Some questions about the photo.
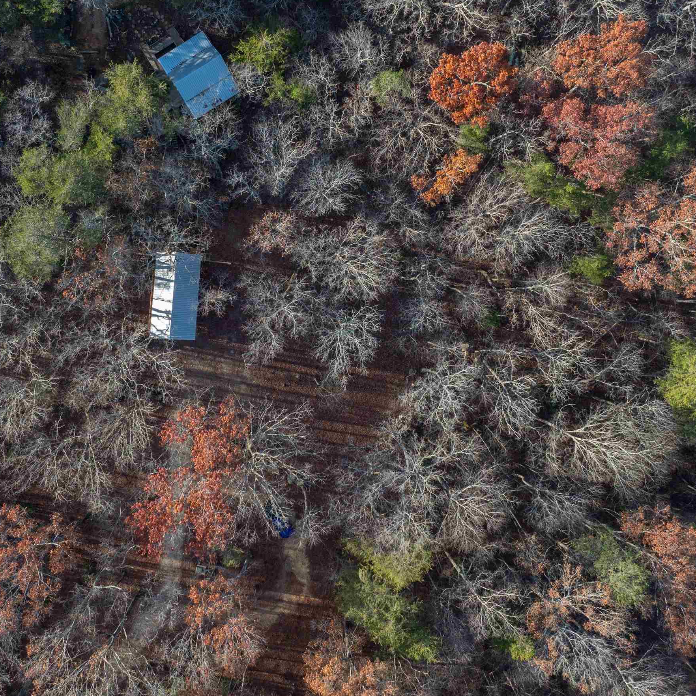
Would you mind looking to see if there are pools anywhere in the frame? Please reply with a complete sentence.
No, no pool can be seen from above.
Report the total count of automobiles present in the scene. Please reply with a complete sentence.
Not a single automobile can be seen.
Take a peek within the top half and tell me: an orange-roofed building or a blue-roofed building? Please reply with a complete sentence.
Visible within the top half is a blue-roofed building.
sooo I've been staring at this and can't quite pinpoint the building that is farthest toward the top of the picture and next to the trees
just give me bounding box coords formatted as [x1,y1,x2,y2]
[140,21,239,120]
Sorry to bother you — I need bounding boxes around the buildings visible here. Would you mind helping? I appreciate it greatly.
[140,21,239,120]
[149,251,202,340]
